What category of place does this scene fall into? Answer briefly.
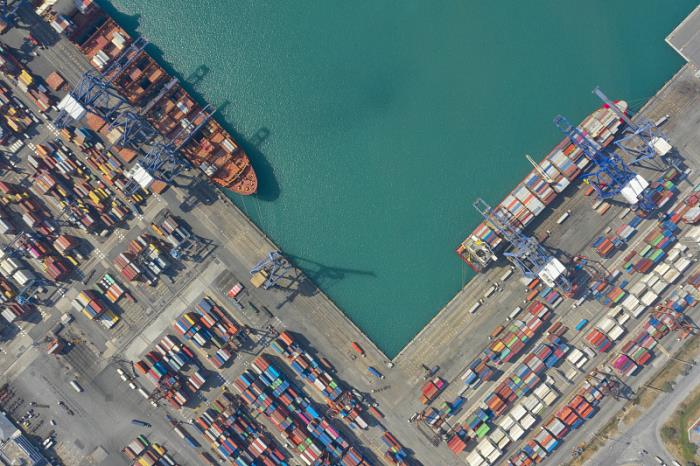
port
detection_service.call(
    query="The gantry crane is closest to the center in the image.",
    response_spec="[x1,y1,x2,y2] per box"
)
[239,244,296,299]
